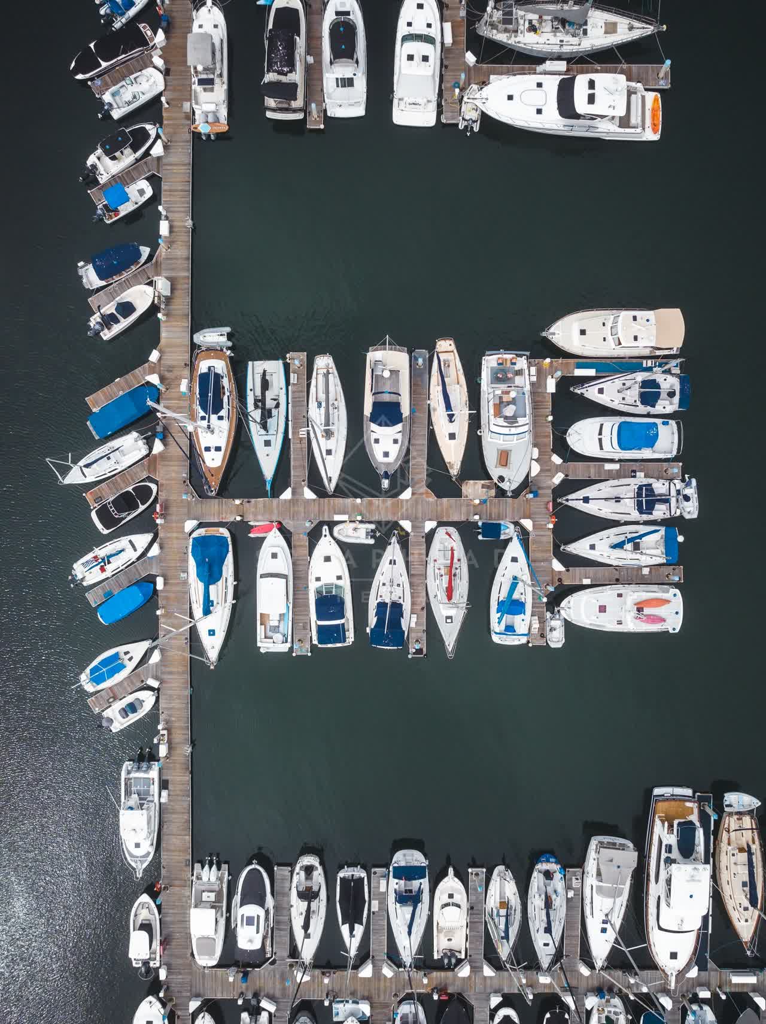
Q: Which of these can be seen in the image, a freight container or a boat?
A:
boat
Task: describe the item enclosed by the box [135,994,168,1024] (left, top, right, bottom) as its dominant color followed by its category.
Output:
white boat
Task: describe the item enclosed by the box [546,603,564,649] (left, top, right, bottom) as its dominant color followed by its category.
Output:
white boat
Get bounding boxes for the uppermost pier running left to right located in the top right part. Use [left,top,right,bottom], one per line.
[465,55,671,90]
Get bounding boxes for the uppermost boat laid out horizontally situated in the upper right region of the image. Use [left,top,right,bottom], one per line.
[470,0,667,55]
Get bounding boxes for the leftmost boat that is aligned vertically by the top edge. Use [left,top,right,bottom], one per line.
[188,0,228,146]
